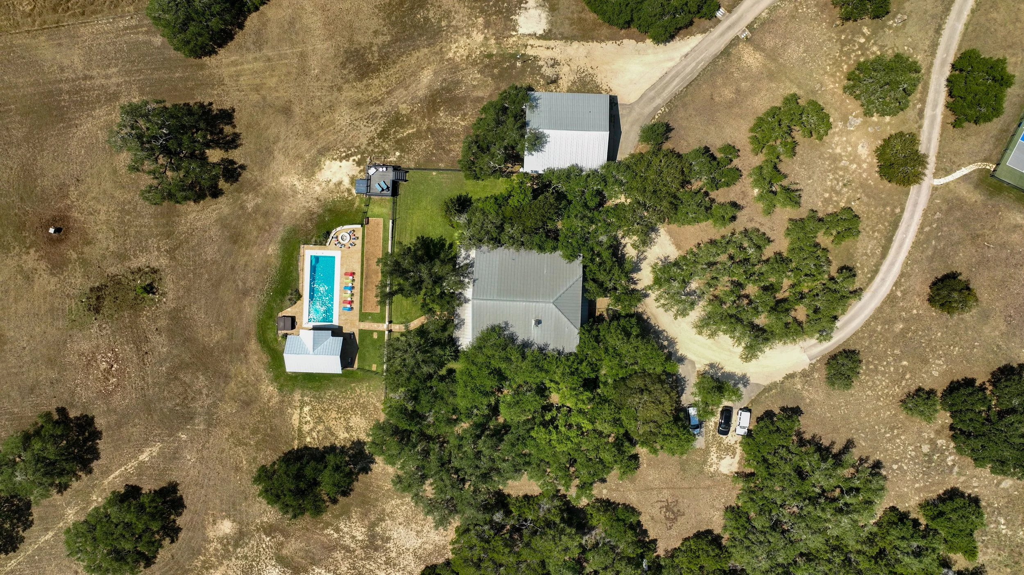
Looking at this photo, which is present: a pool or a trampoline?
pool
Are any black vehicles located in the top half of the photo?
No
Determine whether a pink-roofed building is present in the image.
No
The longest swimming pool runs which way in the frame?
up and down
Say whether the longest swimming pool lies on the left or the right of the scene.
left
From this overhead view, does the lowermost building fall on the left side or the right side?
left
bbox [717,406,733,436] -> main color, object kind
black car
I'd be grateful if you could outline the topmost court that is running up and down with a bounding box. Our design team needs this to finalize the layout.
[995,118,1024,190]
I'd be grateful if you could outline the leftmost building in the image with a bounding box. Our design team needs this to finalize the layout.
[283,329,345,374]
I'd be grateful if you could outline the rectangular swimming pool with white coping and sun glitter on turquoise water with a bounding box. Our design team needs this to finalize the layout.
[303,250,341,327]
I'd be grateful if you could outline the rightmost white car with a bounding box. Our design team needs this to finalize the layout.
[735,406,751,435]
